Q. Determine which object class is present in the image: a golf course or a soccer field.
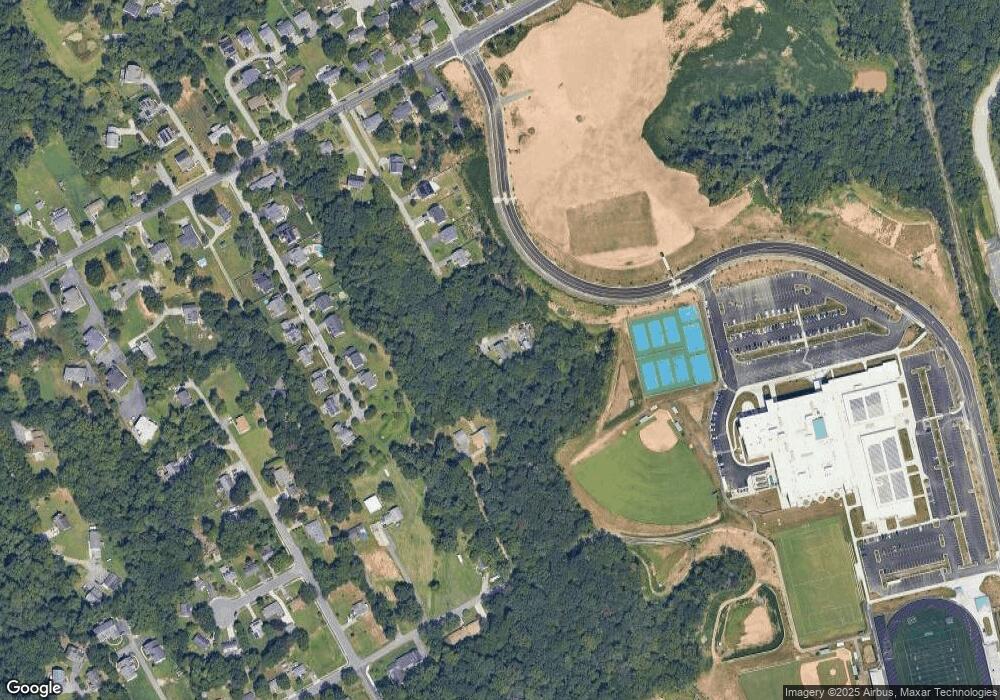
soccer field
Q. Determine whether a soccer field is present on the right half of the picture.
Yes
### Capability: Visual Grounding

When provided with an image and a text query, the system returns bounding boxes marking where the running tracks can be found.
[873,599,990,700]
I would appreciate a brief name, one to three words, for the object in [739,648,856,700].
baseball field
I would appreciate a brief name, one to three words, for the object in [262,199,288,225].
house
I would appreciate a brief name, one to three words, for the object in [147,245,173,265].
house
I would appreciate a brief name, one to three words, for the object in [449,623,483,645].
barn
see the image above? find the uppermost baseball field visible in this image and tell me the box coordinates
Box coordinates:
[575,409,718,525]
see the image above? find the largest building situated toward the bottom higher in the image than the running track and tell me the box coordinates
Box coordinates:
[739,360,916,523]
